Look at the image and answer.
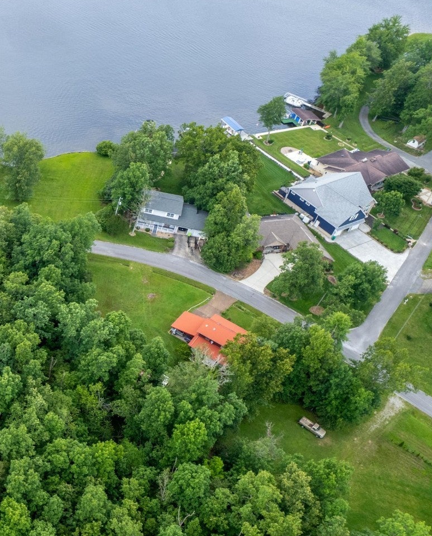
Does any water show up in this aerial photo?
Yes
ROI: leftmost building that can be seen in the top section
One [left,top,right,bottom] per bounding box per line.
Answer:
[137,190,209,239]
